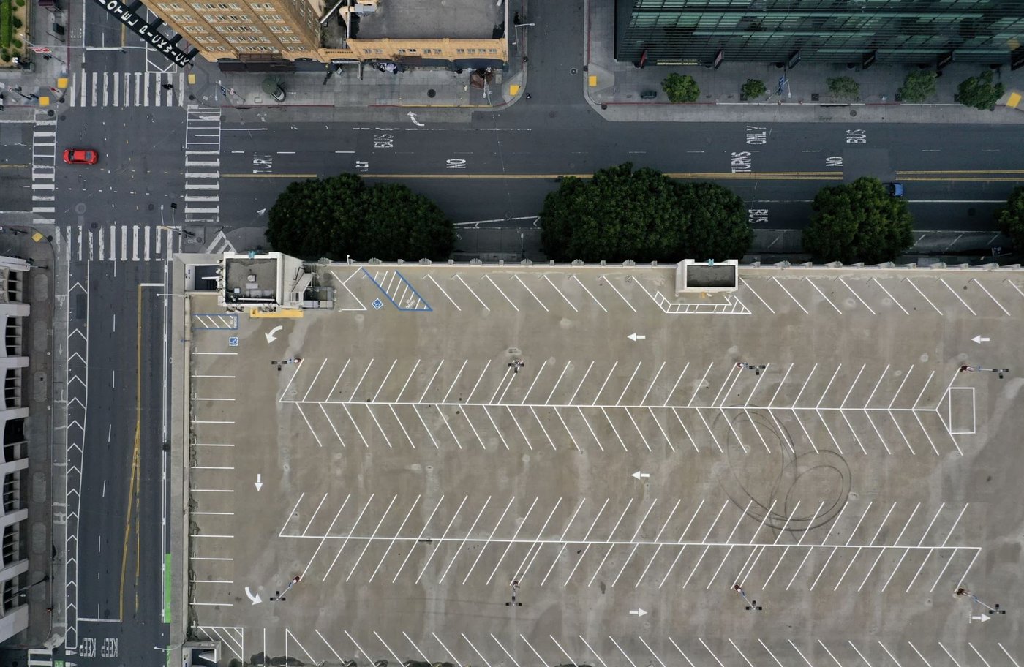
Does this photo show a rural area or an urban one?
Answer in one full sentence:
The area is urban.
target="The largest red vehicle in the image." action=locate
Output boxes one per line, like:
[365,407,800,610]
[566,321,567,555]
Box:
[61,146,94,163]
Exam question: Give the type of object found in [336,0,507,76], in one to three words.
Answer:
building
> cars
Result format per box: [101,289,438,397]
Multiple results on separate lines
[61,146,94,163]
[880,181,906,197]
